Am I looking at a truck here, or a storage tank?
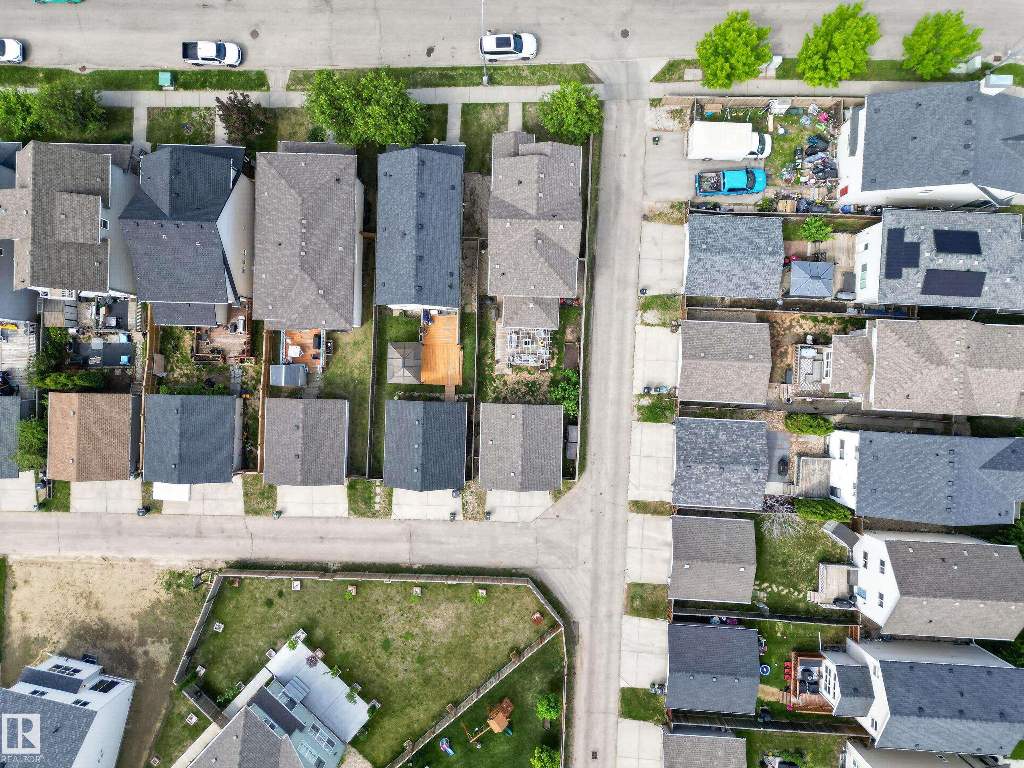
truck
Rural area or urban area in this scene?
urban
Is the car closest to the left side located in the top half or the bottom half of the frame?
top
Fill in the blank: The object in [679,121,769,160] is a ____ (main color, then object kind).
white truck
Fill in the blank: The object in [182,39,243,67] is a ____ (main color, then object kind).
white truck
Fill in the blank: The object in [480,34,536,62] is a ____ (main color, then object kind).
white car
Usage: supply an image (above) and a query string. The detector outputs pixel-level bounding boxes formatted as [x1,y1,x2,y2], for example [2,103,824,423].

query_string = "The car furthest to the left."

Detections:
[0,37,25,64]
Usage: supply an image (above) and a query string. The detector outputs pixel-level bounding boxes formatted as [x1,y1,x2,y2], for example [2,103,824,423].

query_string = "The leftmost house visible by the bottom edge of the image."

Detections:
[0,654,136,768]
